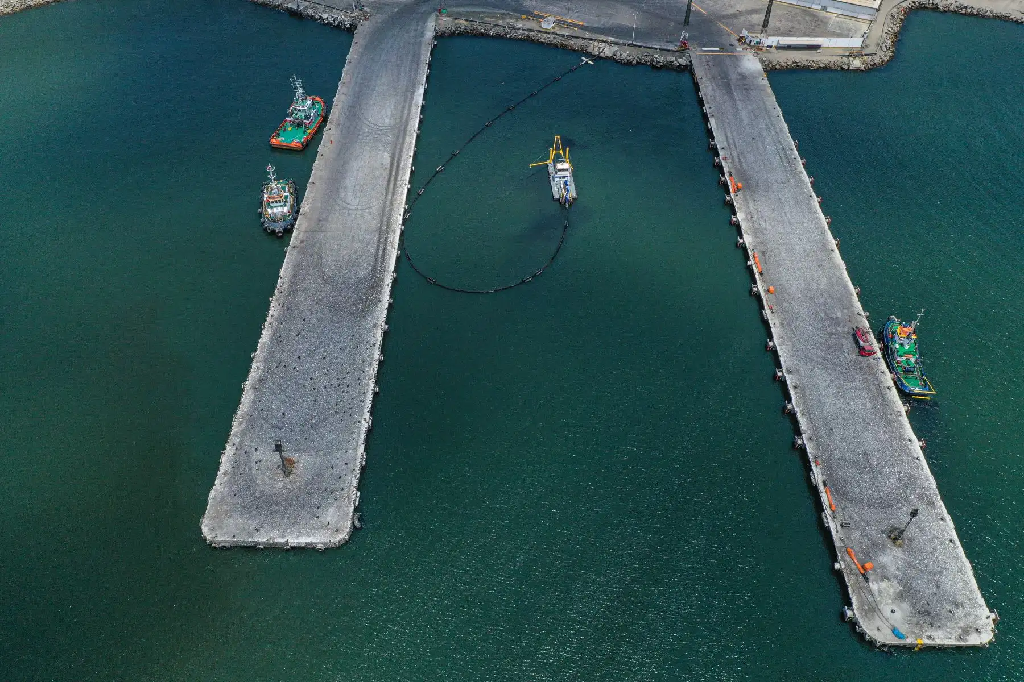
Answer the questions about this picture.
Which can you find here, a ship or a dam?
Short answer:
ship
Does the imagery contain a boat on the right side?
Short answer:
Yes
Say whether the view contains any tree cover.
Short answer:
No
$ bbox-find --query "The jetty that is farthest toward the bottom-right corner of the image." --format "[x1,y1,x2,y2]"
[691,52,997,646]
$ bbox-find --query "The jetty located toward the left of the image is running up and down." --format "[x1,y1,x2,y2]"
[201,19,434,548]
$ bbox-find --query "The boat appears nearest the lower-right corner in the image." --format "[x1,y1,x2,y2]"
[882,305,939,407]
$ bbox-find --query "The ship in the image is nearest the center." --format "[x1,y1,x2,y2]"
[528,134,578,213]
